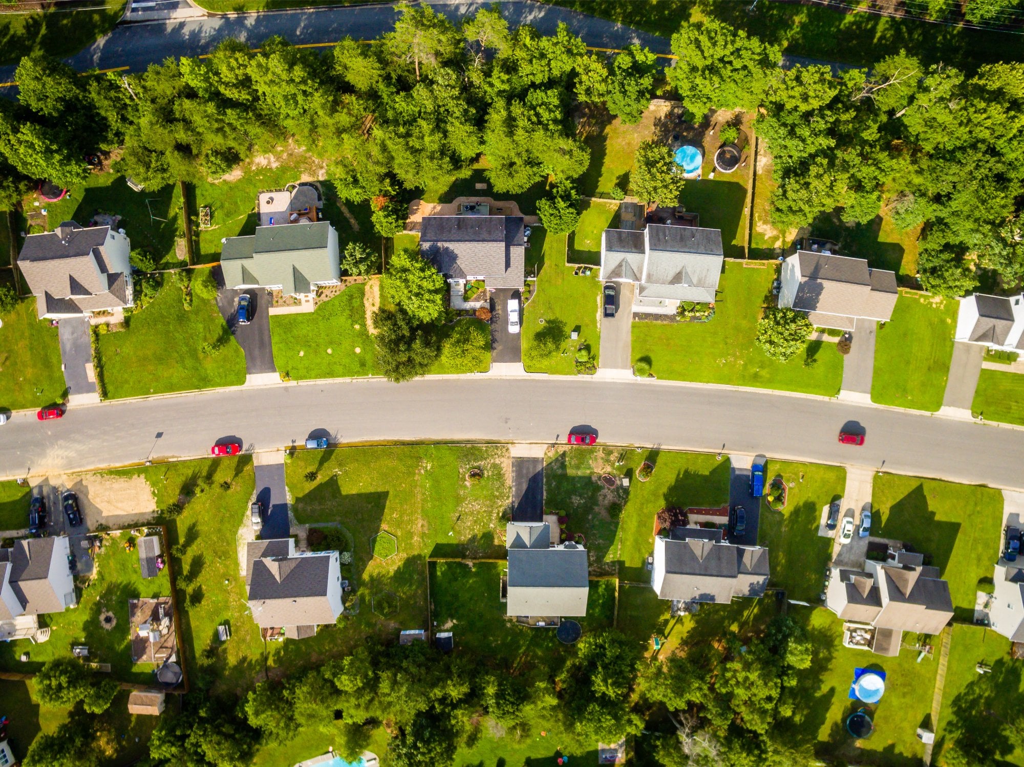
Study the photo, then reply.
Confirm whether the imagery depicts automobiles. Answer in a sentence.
Yes, you can see an automobile in this photo.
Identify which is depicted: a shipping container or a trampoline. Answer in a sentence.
The image shows a trampoline.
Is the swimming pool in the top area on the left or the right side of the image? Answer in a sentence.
The swimming pool in the top area appears in the right half of the scene.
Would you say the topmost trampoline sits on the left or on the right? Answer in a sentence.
It is on the right.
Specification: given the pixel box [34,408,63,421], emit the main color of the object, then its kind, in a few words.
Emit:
red vehicle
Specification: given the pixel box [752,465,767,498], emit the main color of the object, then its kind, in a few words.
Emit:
blue vehicle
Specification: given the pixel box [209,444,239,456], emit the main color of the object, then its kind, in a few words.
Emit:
red vehicle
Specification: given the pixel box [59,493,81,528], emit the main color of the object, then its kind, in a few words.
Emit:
black truck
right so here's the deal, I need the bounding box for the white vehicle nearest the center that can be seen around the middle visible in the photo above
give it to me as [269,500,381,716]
[507,297,520,333]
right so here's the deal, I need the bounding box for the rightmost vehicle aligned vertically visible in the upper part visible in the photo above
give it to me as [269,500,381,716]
[604,283,616,318]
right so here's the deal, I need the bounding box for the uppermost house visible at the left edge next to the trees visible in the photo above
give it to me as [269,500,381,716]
[17,221,140,317]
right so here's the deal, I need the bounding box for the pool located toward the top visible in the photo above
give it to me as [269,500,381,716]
[676,142,707,175]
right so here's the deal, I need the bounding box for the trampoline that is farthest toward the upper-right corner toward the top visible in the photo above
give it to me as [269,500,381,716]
[716,138,747,170]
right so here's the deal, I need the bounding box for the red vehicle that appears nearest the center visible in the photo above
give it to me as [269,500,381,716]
[567,434,597,447]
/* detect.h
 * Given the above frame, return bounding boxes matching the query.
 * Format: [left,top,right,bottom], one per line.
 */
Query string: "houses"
[984,556,1024,661]
[219,221,340,298]
[501,519,589,628]
[0,739,14,767]
[238,531,340,642]
[826,551,954,657]
[600,224,724,303]
[420,215,524,290]
[780,250,898,331]
[0,531,76,619]
[17,221,140,317]
[954,295,1024,354]
[654,527,770,616]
